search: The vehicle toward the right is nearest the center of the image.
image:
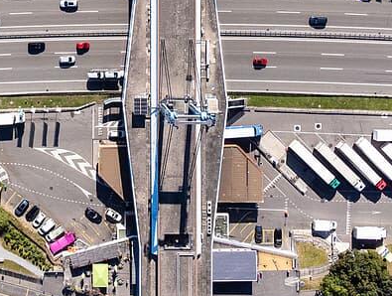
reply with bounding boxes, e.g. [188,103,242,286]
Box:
[225,125,262,138]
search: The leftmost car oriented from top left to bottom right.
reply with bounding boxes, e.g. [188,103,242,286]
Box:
[84,208,102,223]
